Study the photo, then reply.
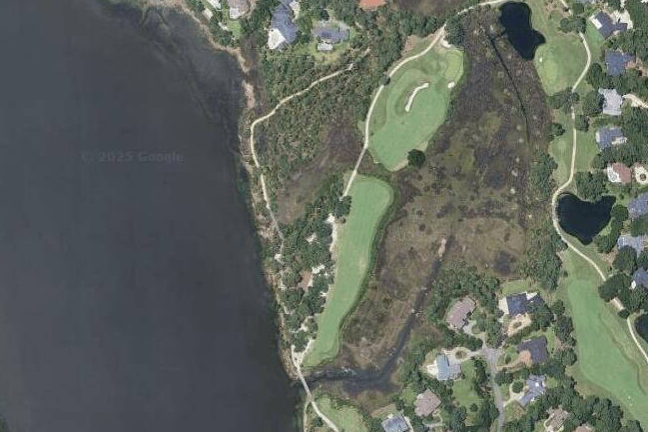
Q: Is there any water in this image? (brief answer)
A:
Yes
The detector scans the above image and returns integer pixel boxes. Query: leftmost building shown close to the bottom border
[383,413,408,432]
